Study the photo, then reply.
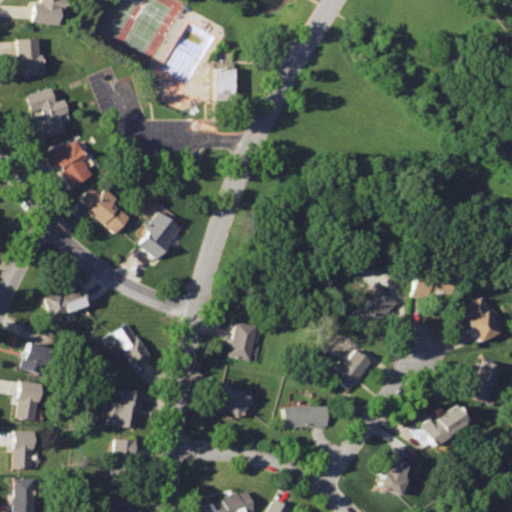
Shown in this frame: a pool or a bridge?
pool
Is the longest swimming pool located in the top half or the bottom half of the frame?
top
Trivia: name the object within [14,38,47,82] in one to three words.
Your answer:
house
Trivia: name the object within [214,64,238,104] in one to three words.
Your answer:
building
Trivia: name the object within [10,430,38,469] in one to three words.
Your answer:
house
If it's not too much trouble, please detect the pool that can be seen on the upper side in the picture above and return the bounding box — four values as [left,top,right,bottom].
[165,24,216,84]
